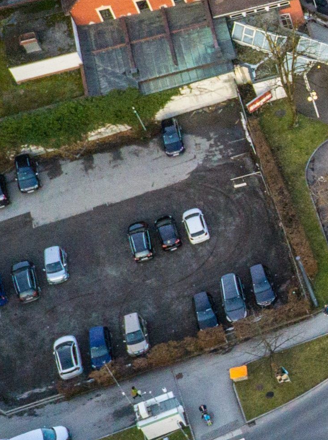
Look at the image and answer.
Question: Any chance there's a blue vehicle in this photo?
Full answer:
Yes, you can see a blue vehicle in this photo.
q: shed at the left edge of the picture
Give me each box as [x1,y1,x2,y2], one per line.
[0,0,85,79]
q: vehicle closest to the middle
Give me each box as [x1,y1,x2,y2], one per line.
[153,214,180,251]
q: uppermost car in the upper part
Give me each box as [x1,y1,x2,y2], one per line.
[158,117,182,154]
